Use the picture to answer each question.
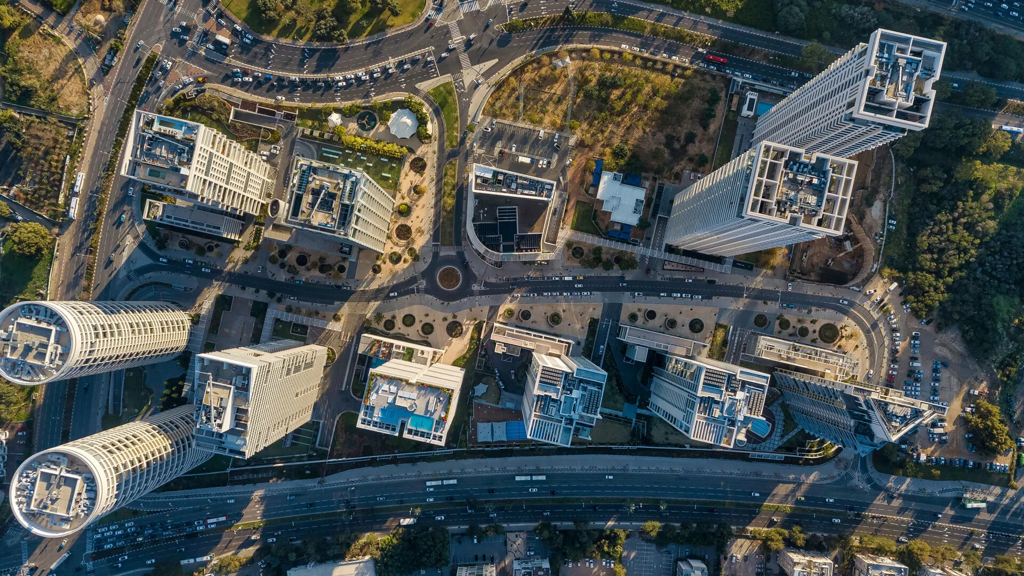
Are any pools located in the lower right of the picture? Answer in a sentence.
Yes, there is a pool in the lower right of the picture.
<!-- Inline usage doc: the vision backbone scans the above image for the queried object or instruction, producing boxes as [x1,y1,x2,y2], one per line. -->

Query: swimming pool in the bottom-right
[743,404,781,442]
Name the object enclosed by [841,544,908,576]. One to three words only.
house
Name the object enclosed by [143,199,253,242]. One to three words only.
building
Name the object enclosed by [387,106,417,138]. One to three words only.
tent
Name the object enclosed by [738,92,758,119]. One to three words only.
building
